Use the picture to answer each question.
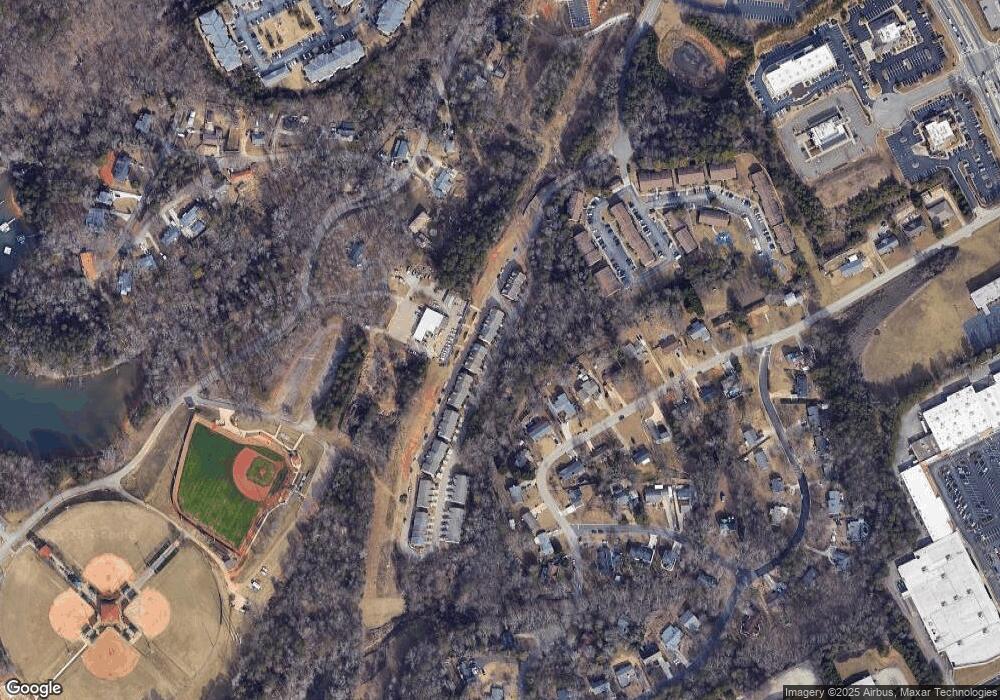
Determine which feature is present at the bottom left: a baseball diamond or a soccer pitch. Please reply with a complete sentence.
There is a baseball diamond at the bottom left.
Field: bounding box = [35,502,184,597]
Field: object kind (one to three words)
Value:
baseball field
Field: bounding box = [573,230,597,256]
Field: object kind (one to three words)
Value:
building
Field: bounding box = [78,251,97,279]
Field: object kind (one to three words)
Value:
house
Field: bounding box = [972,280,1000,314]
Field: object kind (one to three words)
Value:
building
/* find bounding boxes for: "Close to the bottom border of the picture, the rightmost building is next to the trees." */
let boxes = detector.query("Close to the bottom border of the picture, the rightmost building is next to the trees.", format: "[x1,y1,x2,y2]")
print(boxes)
[898,531,1000,668]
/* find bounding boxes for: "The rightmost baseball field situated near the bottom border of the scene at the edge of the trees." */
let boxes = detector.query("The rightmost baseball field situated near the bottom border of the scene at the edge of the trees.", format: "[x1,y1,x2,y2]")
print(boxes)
[123,537,219,685]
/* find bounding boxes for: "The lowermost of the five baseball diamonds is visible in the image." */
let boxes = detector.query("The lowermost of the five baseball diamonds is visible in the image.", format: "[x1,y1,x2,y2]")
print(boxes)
[35,626,184,700]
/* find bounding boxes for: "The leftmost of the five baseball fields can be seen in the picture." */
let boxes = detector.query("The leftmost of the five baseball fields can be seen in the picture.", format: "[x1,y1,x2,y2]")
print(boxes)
[1,537,97,685]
